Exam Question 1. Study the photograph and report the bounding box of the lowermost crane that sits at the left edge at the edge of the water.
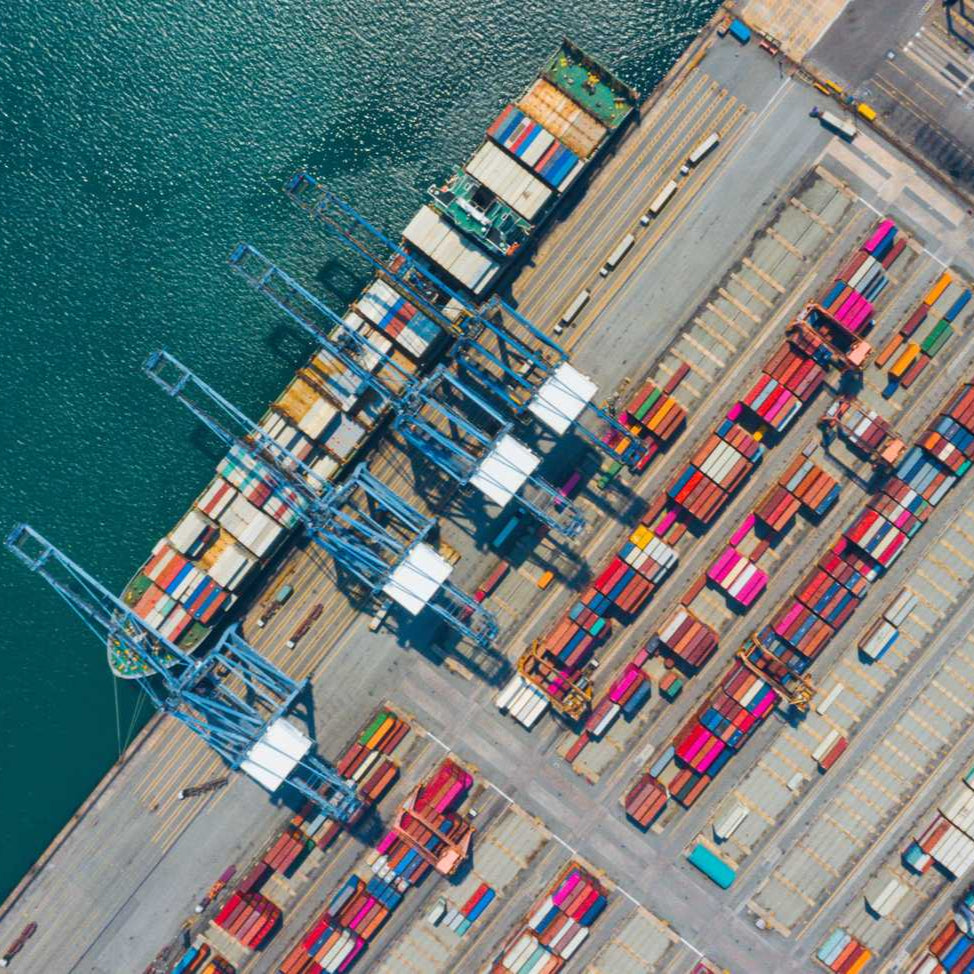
[3,522,373,823]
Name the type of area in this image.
port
